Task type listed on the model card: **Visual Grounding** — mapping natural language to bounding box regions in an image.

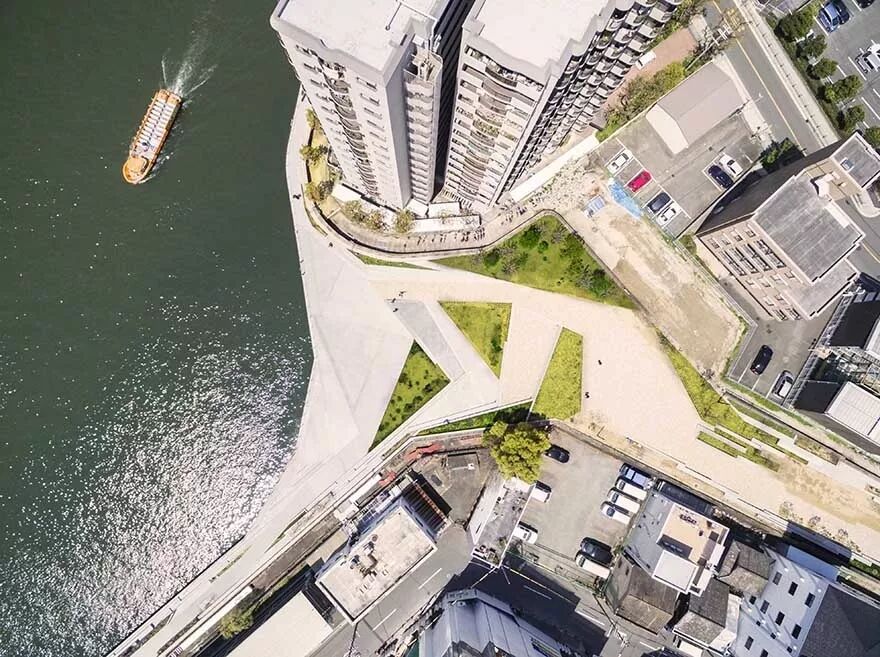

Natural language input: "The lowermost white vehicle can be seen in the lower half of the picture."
[577,554,607,576]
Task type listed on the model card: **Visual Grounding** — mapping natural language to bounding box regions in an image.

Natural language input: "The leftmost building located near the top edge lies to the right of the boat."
[266,0,476,208]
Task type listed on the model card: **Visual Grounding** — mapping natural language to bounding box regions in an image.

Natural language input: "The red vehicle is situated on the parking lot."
[626,170,652,193]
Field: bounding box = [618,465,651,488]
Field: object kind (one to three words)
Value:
truck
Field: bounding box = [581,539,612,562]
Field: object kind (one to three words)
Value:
car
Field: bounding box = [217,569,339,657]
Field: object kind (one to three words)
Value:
building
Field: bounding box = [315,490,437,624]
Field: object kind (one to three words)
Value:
house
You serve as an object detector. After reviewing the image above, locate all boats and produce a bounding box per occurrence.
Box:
[126,90,183,184]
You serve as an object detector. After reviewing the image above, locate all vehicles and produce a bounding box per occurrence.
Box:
[749,345,773,374]
[532,484,552,502]
[607,490,640,512]
[601,503,632,525]
[581,539,612,562]
[772,371,795,398]
[607,150,633,175]
[655,203,681,226]
[577,554,607,576]
[829,0,853,24]
[618,465,651,488]
[854,50,879,78]
[626,170,652,193]
[706,165,732,191]
[514,525,536,544]
[614,478,647,499]
[816,3,840,31]
[645,192,671,214]
[634,51,657,70]
[545,445,571,464]
[718,154,743,179]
